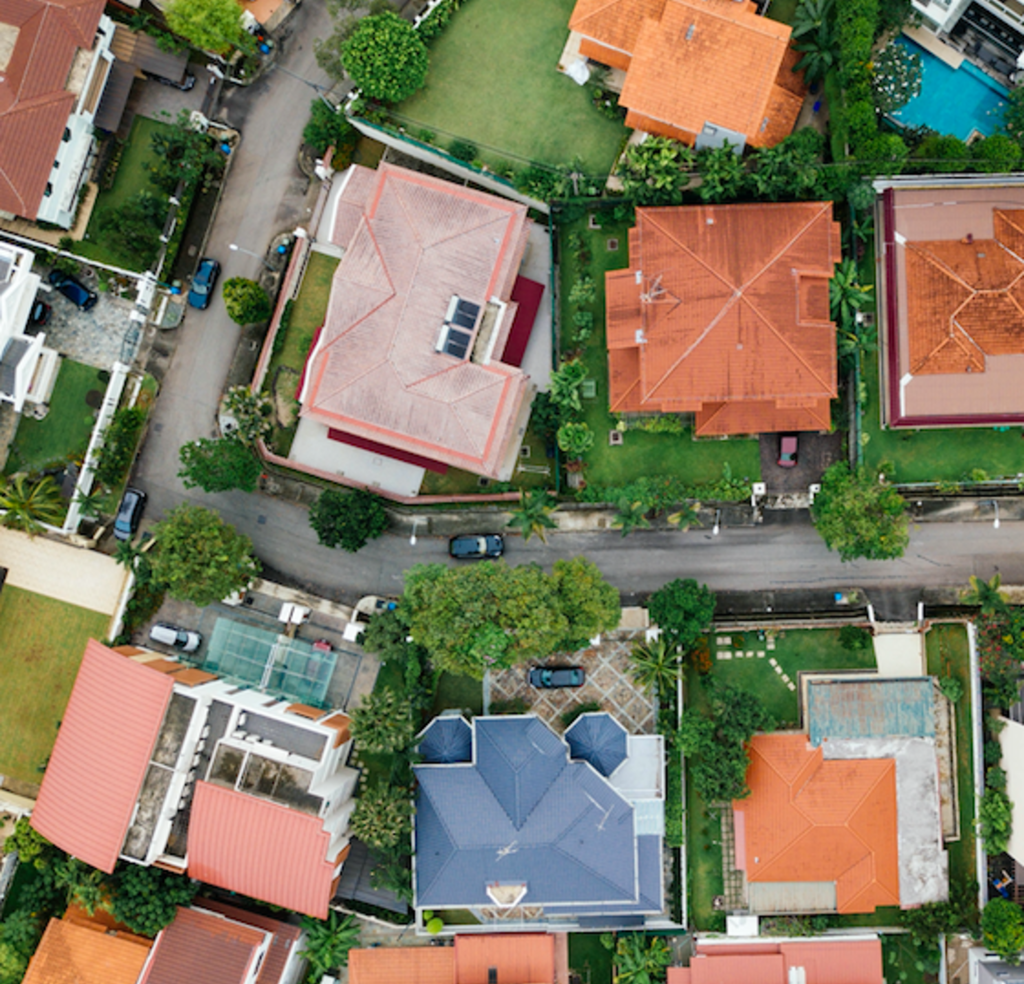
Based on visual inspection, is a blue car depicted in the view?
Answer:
Yes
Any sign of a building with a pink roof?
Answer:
Yes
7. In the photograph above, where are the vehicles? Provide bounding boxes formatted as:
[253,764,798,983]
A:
[775,431,800,469]
[135,68,193,94]
[187,256,221,311]
[113,485,149,541]
[529,664,585,690]
[47,269,103,311]
[146,620,205,653]
[29,299,55,325]
[448,533,504,559]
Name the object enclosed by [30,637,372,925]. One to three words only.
building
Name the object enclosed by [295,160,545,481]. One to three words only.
house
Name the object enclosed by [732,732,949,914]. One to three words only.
house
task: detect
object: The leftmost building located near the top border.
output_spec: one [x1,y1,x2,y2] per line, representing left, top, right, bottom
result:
[0,0,129,232]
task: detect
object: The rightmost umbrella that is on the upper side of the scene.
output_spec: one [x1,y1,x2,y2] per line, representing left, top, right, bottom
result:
[568,61,590,88]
